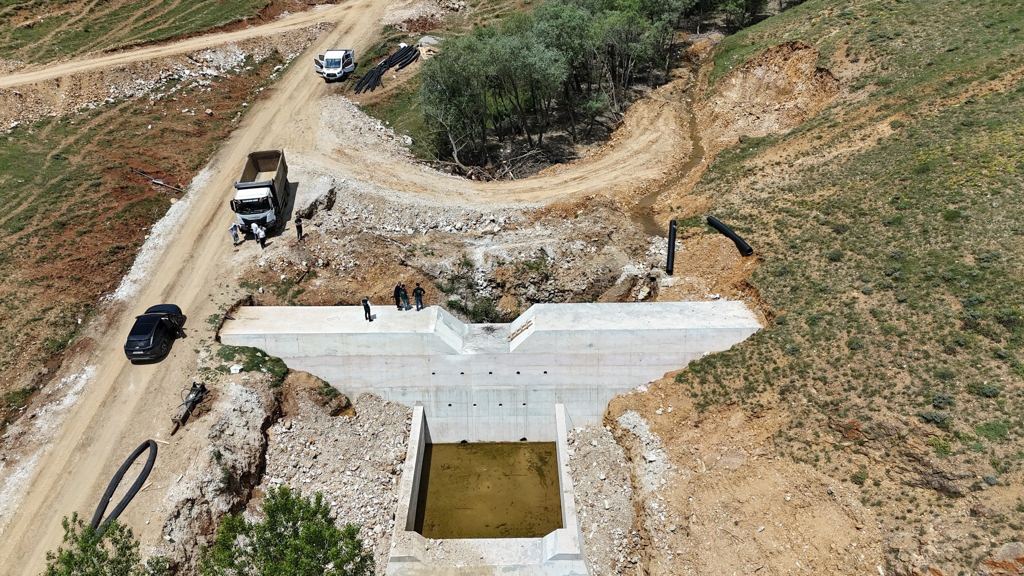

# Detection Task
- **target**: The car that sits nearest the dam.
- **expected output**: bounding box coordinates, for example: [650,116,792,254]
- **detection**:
[122,302,190,362]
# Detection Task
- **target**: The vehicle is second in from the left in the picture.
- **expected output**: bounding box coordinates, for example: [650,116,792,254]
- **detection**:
[228,146,289,228]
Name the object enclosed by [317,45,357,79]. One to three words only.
vehicle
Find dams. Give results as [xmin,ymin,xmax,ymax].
[217,303,765,442]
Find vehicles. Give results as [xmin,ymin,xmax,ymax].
[317,45,357,79]
[122,302,190,362]
[228,146,289,228]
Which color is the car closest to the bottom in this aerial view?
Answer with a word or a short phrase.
black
